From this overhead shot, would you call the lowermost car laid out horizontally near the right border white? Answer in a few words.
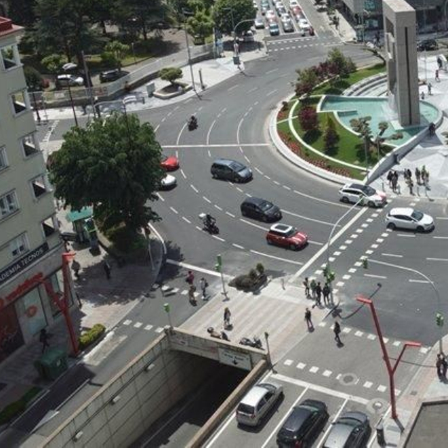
Yes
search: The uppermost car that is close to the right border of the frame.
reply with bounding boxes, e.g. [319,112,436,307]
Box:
[416,39,442,52]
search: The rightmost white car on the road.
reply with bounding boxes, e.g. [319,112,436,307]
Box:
[384,207,435,231]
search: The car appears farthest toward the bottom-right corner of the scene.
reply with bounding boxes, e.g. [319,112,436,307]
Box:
[319,400,375,448]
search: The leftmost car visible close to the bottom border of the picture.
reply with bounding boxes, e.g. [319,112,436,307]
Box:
[270,390,333,448]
